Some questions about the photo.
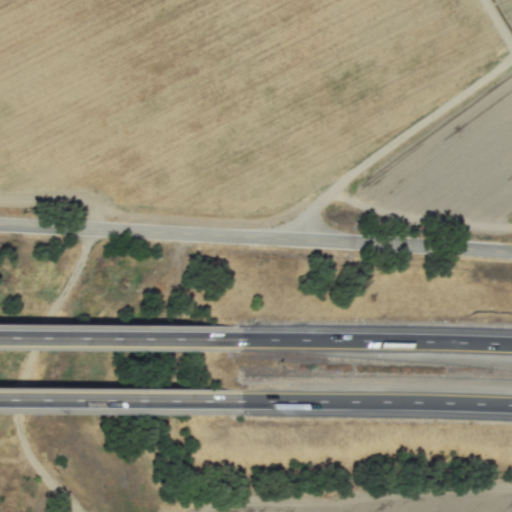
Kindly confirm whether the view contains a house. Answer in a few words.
No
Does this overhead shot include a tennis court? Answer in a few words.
No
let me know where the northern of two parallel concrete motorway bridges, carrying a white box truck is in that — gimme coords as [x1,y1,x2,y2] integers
[0,324,242,352]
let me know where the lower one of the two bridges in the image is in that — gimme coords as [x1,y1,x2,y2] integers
[0,388,242,416]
